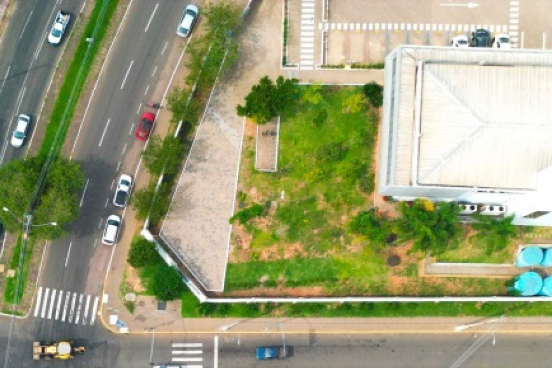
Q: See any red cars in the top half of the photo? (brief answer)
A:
Yes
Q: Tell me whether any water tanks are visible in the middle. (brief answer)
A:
No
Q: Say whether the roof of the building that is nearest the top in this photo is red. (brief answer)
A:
No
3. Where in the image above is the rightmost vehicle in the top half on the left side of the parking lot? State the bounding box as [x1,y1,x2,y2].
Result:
[175,4,197,40]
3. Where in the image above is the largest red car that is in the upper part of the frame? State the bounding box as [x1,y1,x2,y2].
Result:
[133,110,156,143]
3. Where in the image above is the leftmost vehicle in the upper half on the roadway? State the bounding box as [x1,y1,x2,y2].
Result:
[11,114,31,149]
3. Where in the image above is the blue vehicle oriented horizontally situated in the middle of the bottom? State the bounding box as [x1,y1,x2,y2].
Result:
[255,343,291,360]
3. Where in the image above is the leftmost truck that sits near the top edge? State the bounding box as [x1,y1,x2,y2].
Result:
[48,9,70,48]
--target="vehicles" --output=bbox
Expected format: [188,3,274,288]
[101,214,122,247]
[133,110,156,143]
[470,29,492,45]
[451,35,470,45]
[11,114,31,149]
[152,362,181,368]
[175,4,197,40]
[255,343,291,360]
[34,342,87,360]
[48,9,70,48]
[492,35,512,45]
[111,173,133,209]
